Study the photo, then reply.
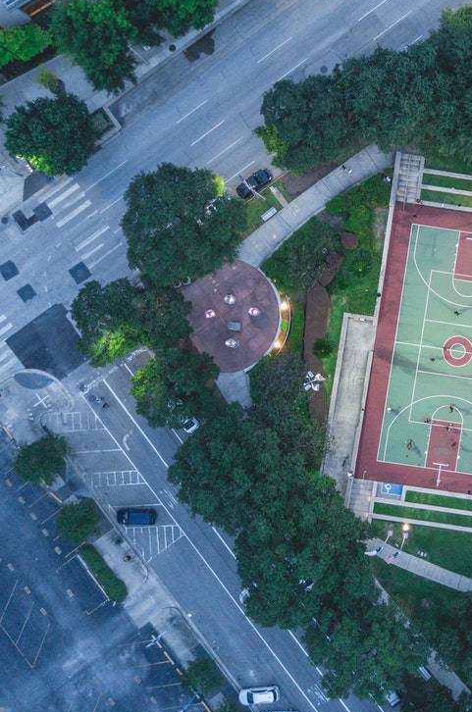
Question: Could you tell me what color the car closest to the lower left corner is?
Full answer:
The color of the car closest to the lower left corner is blue.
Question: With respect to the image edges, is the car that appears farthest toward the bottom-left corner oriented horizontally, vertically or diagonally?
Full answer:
I'd say the car that appears farthest toward the bottom-left corner is aligned horizontally in the picture.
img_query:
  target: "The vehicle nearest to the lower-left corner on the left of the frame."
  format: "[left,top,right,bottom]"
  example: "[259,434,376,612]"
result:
[116,507,159,528]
